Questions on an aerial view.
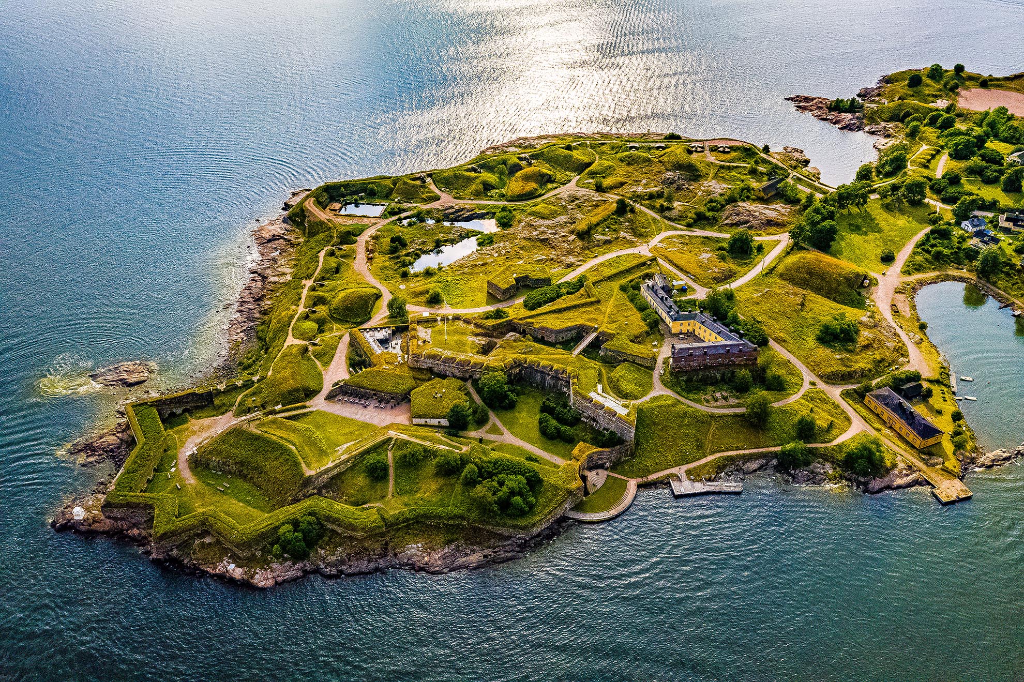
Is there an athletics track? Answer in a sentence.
No, there appears to be no athletics track in this shot.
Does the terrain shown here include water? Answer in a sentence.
Yes, some water is visible.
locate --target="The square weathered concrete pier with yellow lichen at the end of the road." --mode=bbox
[922,473,972,506]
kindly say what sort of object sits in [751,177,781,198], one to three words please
house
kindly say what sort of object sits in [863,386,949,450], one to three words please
house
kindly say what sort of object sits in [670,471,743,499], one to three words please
pier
